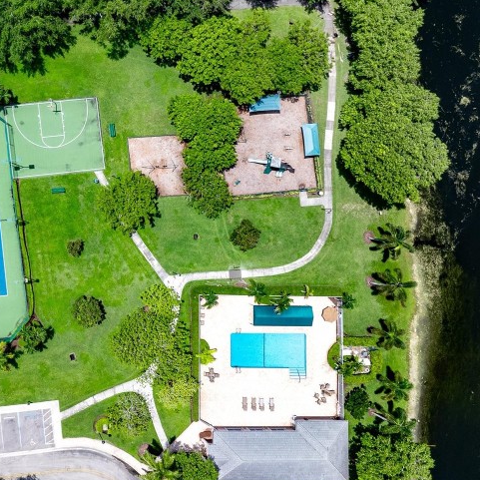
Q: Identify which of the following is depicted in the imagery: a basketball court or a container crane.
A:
basketball court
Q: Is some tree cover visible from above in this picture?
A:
Yes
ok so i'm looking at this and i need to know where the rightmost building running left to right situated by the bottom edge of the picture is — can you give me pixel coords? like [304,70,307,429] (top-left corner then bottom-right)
[207,416,348,480]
